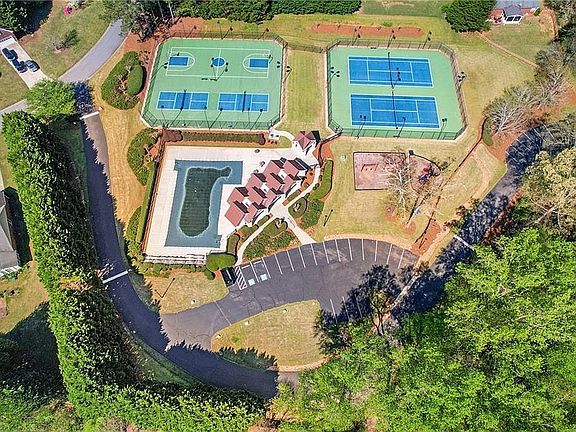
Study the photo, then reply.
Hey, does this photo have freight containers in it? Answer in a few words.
No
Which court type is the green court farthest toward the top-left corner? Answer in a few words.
basketball court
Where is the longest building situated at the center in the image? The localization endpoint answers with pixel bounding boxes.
[225,158,309,229]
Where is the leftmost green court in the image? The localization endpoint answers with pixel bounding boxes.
[138,37,286,132]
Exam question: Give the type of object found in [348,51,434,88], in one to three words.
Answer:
tennis court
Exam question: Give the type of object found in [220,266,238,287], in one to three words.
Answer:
car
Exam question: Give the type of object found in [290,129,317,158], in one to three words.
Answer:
building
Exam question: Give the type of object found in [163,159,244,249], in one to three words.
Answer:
swimming pool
